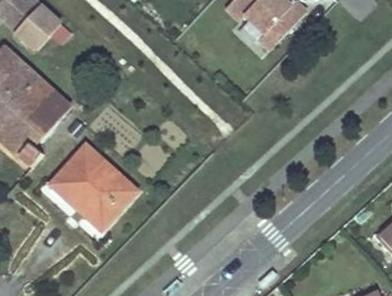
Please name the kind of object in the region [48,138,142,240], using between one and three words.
house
